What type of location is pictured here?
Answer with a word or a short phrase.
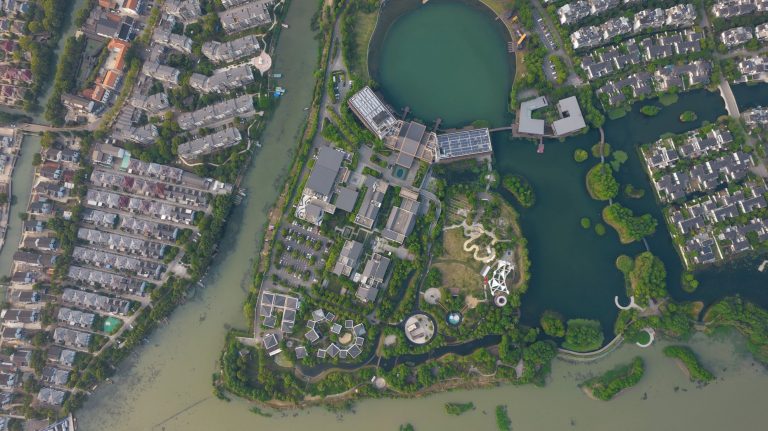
residential area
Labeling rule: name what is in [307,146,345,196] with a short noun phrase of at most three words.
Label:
building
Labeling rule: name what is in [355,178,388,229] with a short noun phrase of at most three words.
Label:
building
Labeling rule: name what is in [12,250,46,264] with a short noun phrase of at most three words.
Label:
house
